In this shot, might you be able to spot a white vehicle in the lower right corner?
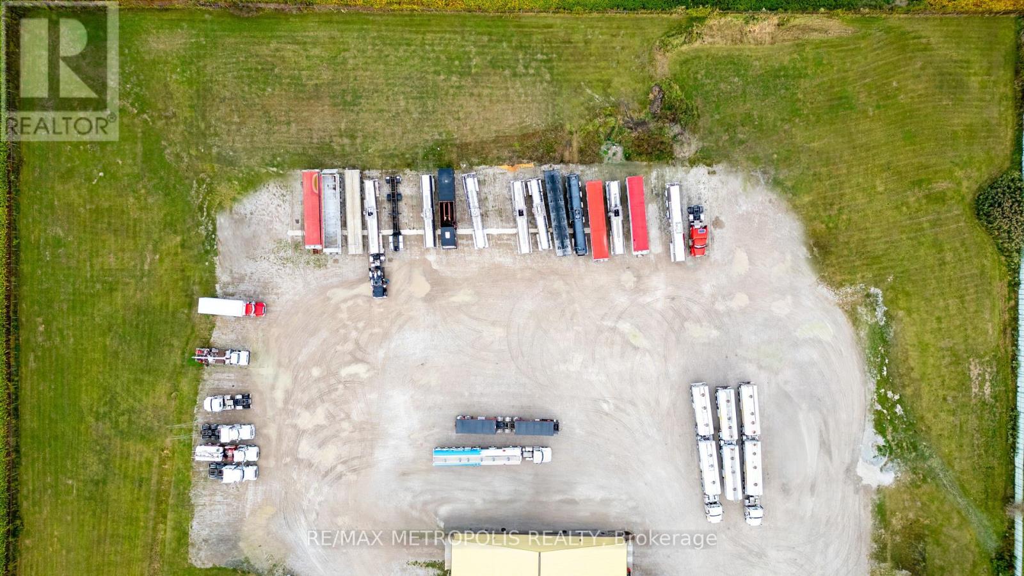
Yes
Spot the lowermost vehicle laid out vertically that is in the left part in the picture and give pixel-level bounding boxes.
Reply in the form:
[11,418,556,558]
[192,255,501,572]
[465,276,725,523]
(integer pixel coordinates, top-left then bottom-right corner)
[369,253,388,298]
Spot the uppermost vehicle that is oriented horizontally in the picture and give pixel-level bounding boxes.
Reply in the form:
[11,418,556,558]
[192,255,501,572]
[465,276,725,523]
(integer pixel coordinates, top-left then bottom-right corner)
[197,298,266,319]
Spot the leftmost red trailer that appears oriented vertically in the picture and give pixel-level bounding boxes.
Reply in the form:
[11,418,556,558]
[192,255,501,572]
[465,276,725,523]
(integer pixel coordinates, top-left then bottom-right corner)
[302,170,323,250]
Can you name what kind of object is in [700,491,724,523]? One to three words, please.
truck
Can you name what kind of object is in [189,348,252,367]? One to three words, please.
vehicle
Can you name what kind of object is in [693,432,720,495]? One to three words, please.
trailer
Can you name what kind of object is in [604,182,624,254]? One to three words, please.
trailer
